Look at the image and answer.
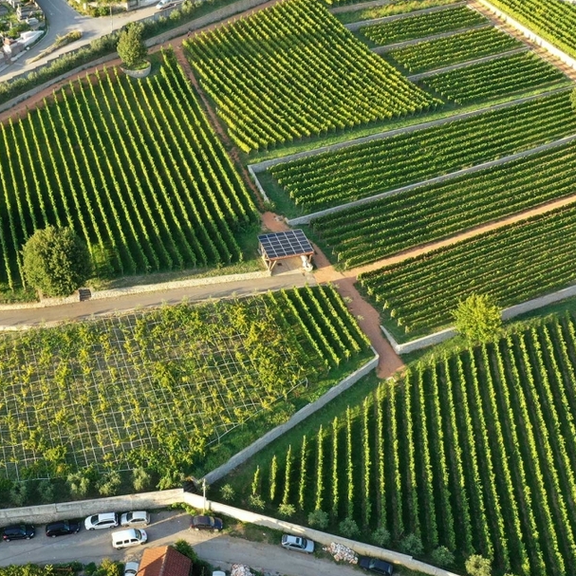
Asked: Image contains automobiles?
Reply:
Yes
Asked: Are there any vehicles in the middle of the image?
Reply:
No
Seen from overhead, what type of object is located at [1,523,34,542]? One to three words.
car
